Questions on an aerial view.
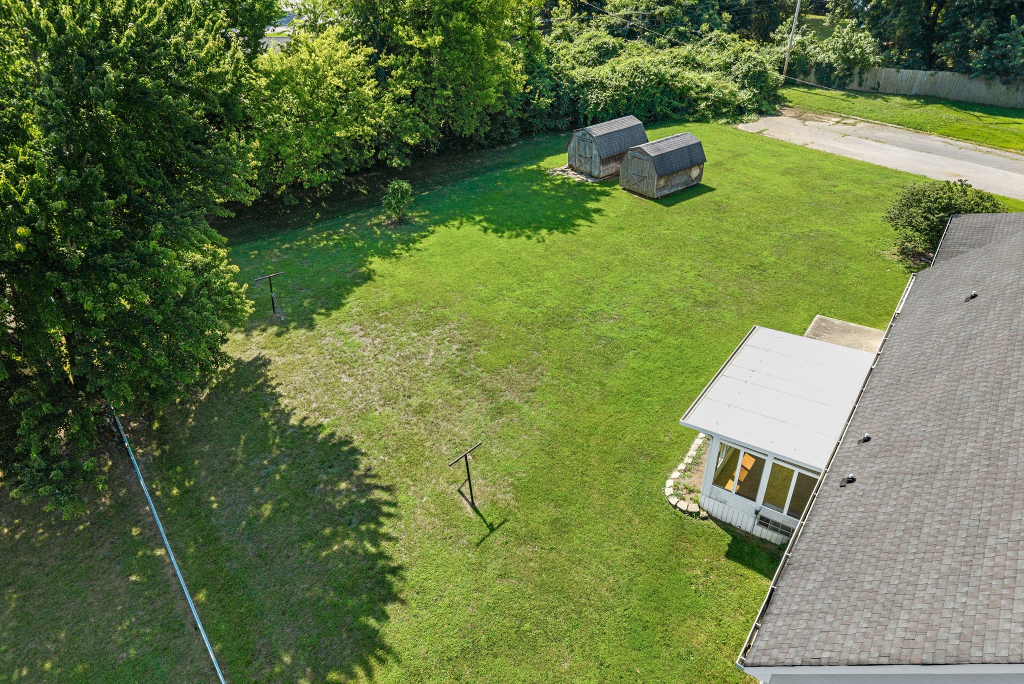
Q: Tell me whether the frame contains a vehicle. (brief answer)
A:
No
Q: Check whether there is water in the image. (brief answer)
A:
No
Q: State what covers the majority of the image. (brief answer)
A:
grass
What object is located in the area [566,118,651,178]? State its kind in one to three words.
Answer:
shed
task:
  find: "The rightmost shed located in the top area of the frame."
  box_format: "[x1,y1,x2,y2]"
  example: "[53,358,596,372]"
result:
[619,133,710,199]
